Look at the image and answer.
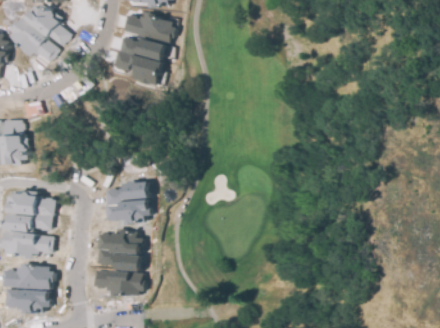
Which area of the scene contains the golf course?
center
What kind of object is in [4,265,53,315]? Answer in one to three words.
house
